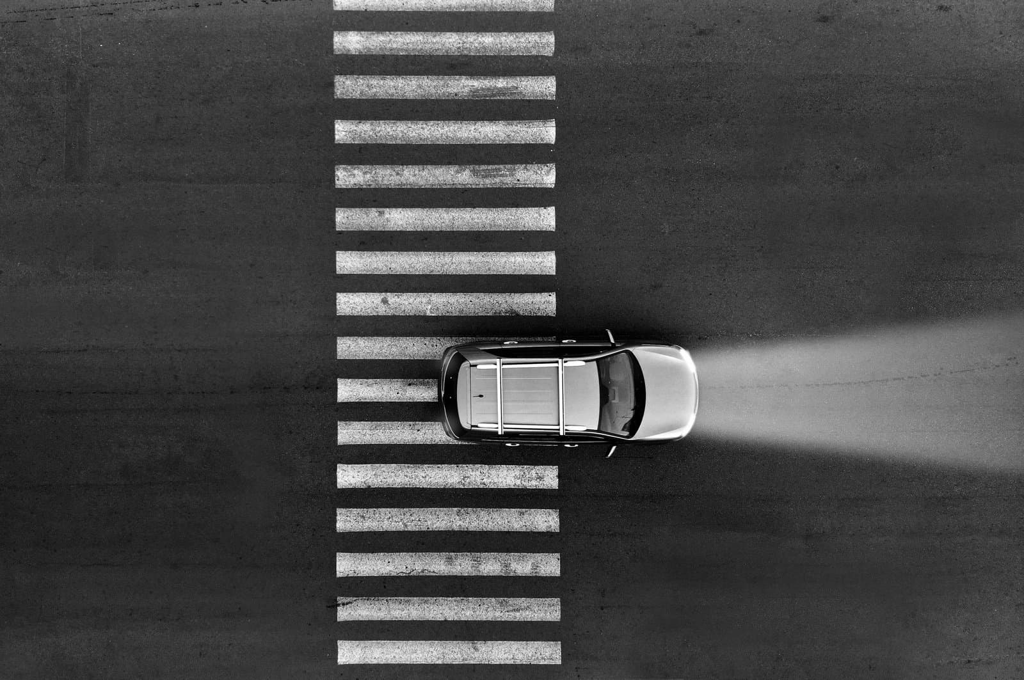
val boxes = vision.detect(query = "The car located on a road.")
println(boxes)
[438,330,699,459]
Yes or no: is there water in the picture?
No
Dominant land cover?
paved ground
